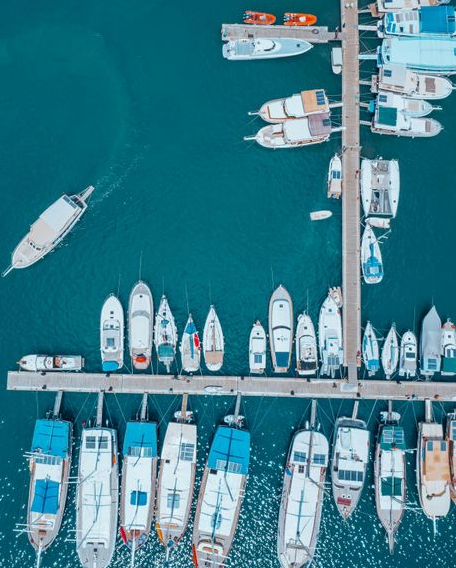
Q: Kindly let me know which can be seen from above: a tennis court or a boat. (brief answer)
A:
boat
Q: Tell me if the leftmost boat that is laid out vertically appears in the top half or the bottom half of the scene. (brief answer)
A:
bottom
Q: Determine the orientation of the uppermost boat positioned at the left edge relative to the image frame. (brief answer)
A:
diagonally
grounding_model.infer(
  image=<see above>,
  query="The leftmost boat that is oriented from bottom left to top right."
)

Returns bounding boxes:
[4,191,94,274]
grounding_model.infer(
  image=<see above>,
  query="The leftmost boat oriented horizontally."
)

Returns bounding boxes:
[15,354,92,373]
